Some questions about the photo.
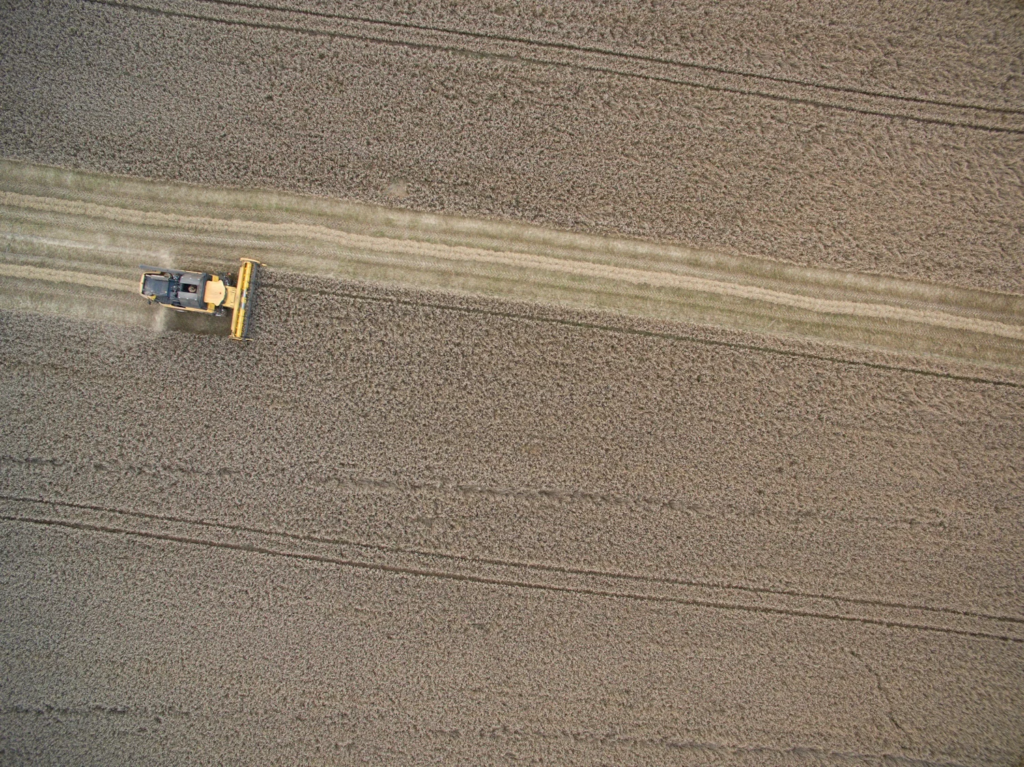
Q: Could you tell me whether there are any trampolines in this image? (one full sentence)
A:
No, no trampoline can be seen from above.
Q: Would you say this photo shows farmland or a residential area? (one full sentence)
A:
This looks like farmland.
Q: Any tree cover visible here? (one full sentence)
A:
No, tree cover can't be seen anywhere here.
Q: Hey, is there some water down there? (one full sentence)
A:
No, water can't be seen anywhere here.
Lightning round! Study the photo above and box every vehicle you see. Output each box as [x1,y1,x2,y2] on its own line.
[137,257,269,340]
